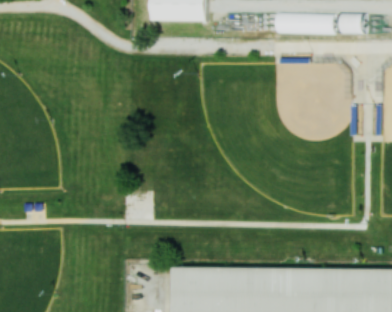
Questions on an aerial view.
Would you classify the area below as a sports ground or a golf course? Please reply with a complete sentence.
What you see here is a sports ground.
